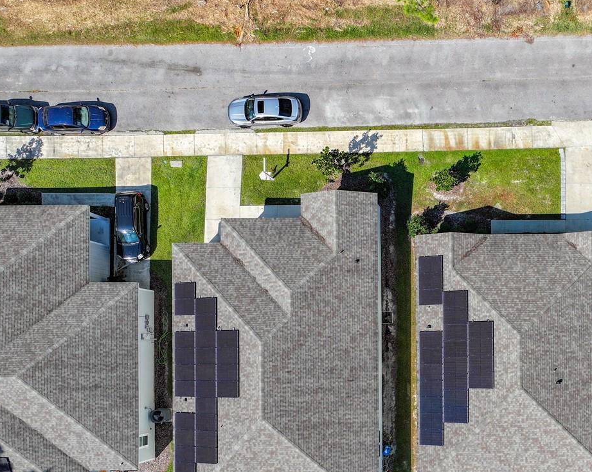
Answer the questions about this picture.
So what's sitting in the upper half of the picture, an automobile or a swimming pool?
automobile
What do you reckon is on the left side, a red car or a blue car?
blue car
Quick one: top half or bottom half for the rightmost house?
bottom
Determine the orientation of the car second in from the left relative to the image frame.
from side to side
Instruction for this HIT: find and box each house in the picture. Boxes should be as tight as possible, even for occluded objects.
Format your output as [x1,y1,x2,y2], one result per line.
[171,190,383,472]
[414,231,592,472]
[0,205,163,472]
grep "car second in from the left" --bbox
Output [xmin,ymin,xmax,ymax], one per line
[35,102,113,137]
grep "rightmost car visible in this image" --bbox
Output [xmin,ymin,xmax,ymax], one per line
[228,93,305,130]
